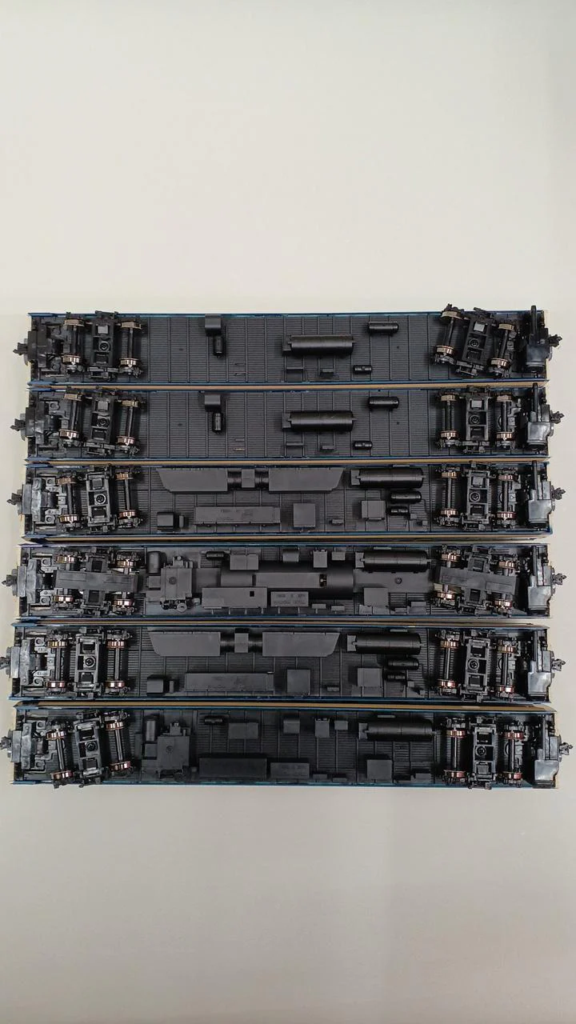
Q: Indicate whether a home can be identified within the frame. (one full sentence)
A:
No, I can't see a single home in this photo.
